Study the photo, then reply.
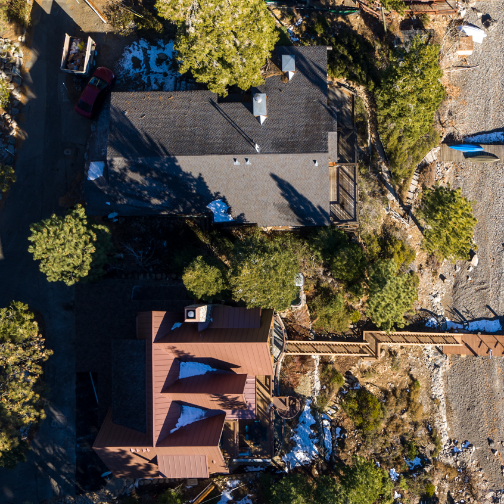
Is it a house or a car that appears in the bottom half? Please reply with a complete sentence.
The feature located in the bottom half is a house.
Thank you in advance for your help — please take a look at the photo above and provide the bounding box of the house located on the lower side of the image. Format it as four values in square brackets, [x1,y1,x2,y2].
[94,302,277,479]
